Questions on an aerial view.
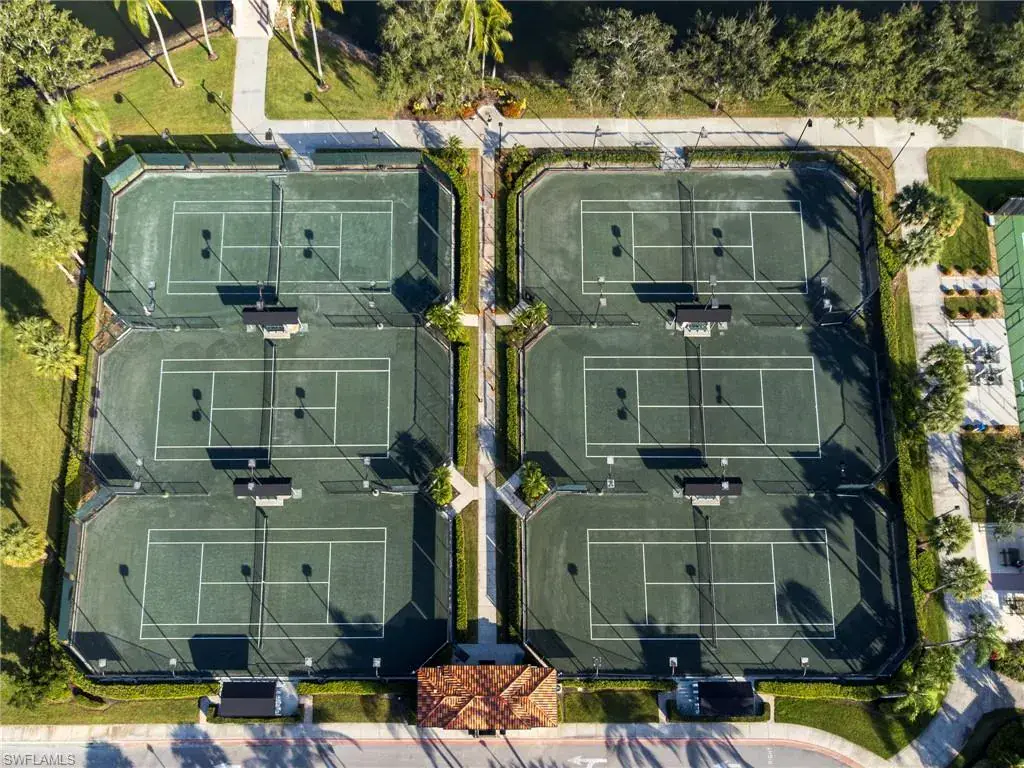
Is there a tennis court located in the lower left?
Yes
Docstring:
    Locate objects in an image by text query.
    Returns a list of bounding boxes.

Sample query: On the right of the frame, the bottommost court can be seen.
[525,494,903,676]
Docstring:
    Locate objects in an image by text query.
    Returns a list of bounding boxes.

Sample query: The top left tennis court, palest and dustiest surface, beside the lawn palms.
[106,169,450,327]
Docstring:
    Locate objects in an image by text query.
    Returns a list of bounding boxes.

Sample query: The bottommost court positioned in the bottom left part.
[72,493,449,675]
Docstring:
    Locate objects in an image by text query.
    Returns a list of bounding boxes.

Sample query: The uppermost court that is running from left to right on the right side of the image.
[523,168,868,326]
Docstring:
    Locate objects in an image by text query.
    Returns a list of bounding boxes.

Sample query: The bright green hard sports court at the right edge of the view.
[994,214,1024,436]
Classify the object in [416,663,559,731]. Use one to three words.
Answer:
building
